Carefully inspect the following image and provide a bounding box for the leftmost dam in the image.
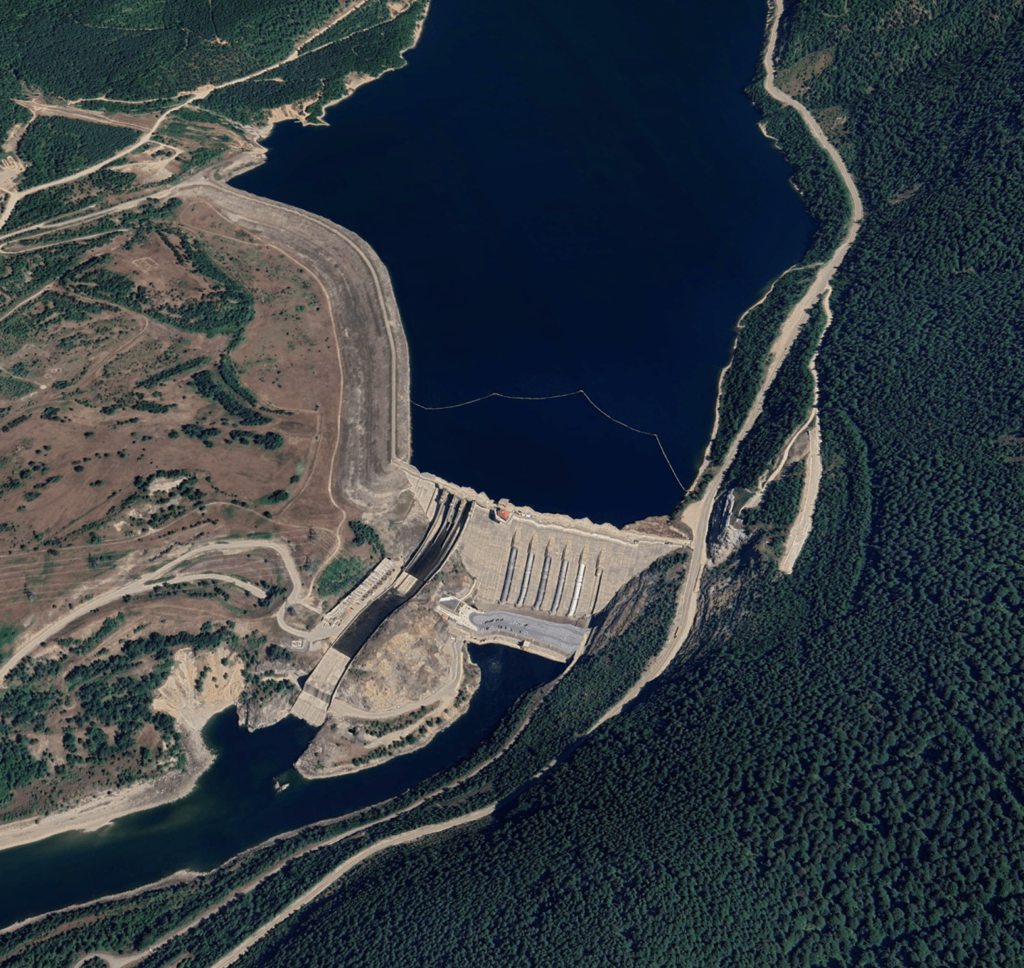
[193,177,411,510]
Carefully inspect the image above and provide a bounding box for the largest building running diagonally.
[325,557,393,625]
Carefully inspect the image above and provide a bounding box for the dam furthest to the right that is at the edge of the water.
[393,459,692,629]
